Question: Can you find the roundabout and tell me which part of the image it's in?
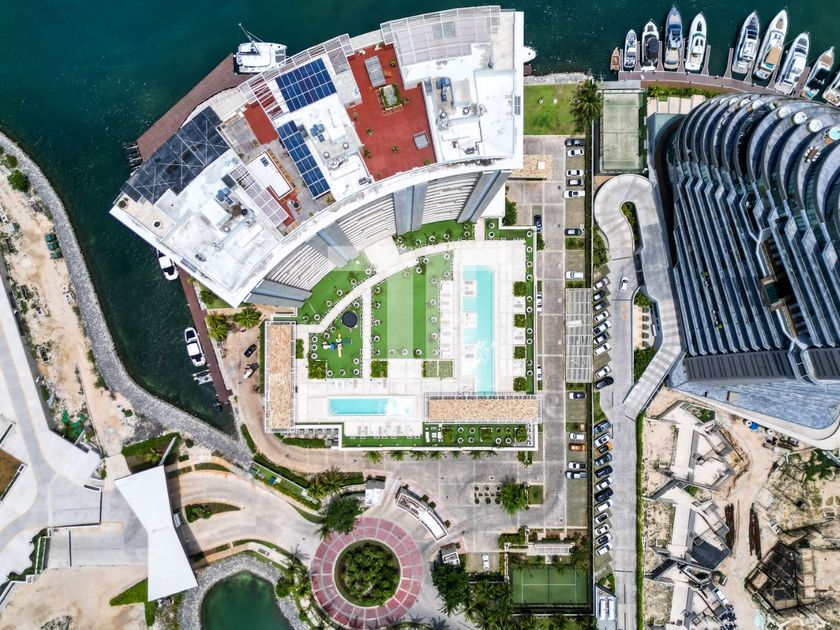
bottom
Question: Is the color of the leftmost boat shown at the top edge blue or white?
white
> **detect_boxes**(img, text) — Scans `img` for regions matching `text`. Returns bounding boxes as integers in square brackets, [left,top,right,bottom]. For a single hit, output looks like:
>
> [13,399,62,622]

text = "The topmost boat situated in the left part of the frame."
[238,23,287,73]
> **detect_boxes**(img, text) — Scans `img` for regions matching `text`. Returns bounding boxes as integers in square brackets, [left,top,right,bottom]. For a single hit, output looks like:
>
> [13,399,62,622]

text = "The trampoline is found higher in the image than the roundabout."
[340,311,357,327]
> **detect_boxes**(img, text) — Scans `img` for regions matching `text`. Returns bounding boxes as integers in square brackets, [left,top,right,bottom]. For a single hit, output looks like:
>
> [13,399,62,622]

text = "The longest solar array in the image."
[276,121,332,202]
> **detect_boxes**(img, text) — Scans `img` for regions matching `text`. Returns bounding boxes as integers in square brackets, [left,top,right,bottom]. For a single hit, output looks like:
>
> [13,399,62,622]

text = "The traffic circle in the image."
[310,516,424,630]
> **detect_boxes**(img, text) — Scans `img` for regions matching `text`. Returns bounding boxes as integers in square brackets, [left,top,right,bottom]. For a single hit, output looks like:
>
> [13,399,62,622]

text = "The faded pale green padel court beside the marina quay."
[604,87,646,171]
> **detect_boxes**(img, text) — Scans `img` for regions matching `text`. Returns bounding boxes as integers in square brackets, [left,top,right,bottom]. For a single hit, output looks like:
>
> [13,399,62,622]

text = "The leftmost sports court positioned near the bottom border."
[512,565,590,611]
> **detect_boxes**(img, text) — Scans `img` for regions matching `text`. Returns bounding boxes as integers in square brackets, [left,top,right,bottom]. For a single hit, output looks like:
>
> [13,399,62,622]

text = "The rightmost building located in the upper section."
[656,91,840,357]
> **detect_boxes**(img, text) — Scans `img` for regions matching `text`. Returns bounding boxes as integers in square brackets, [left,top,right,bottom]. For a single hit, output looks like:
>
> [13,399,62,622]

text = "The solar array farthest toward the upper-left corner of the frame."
[276,58,339,114]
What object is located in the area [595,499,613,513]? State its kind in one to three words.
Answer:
vehicle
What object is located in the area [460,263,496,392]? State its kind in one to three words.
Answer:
swimming pool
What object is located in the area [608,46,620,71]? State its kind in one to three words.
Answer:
boat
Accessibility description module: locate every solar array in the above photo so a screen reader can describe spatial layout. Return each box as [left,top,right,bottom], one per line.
[276,58,339,114]
[276,121,332,202]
